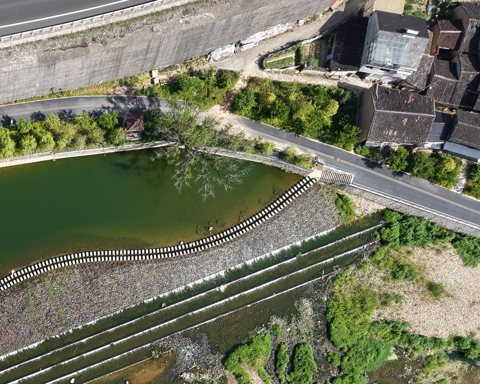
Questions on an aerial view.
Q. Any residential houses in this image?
Yes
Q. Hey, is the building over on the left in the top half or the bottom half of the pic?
top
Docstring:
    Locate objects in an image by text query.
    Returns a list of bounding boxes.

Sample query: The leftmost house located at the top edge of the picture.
[324,16,371,80]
